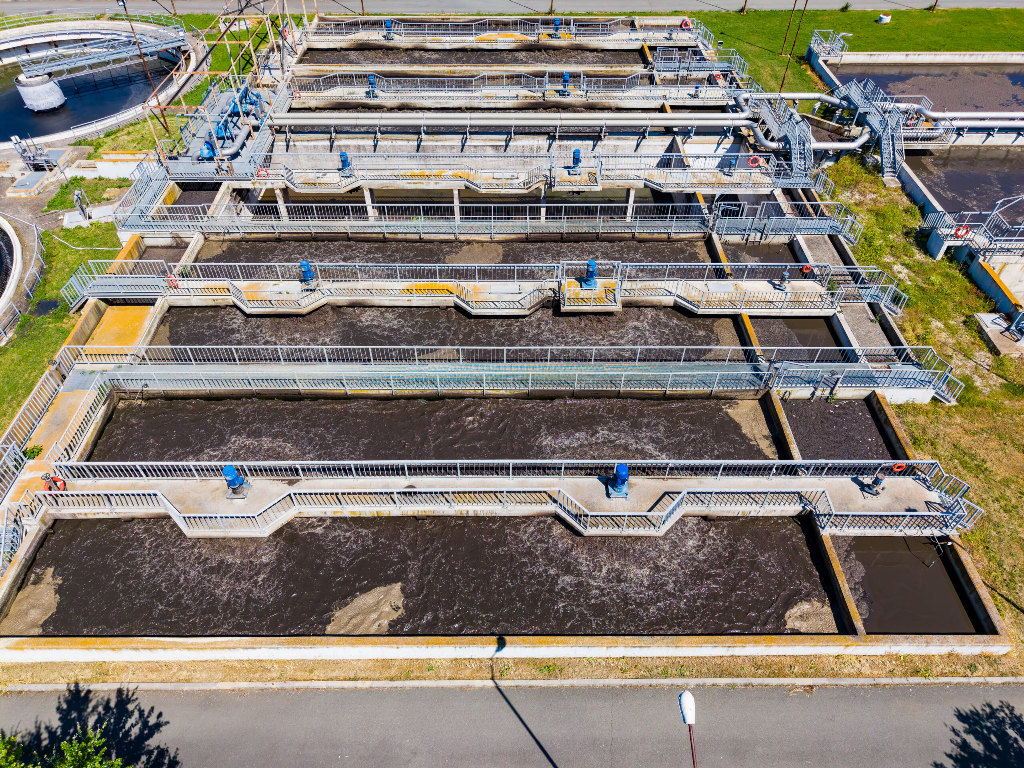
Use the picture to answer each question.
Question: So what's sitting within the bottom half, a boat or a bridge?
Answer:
bridge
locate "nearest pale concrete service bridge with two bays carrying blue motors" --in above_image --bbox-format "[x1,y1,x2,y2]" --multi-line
[31,477,960,542]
